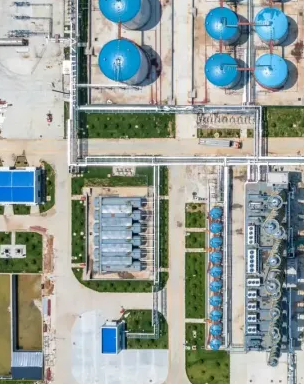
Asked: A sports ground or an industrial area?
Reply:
industrial area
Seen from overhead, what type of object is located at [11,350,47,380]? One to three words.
shed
